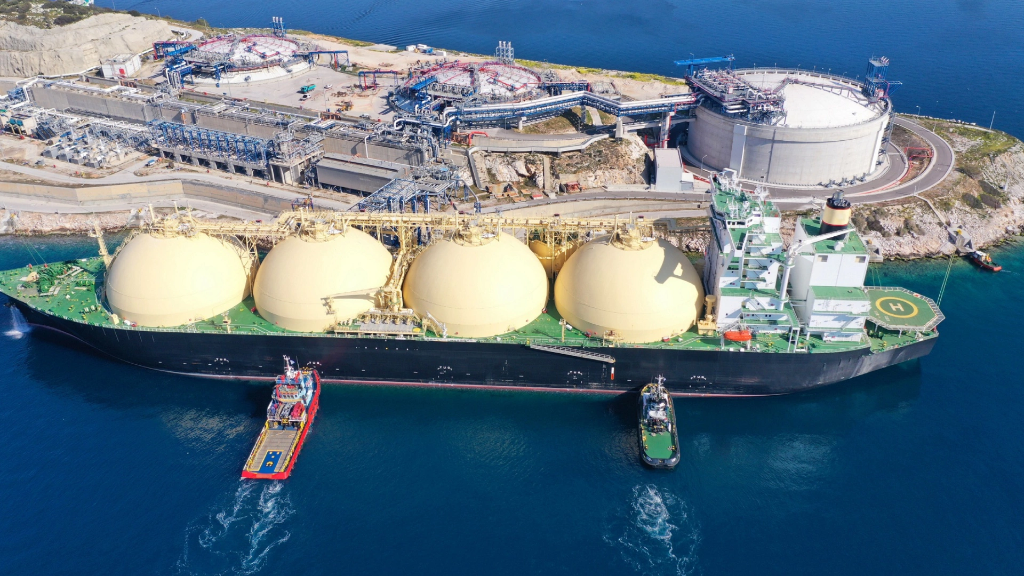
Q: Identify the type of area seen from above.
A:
industrial area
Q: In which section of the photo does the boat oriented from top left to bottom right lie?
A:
right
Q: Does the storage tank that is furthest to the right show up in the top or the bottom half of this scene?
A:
top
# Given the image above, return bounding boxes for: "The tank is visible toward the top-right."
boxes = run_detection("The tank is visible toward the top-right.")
[680,46,912,186]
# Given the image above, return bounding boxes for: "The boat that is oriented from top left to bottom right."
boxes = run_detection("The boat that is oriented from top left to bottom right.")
[971,249,1001,272]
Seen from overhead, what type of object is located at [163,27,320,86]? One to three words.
storage tank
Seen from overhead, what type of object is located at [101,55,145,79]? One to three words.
building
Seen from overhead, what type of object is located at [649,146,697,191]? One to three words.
building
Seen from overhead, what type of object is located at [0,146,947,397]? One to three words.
ship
